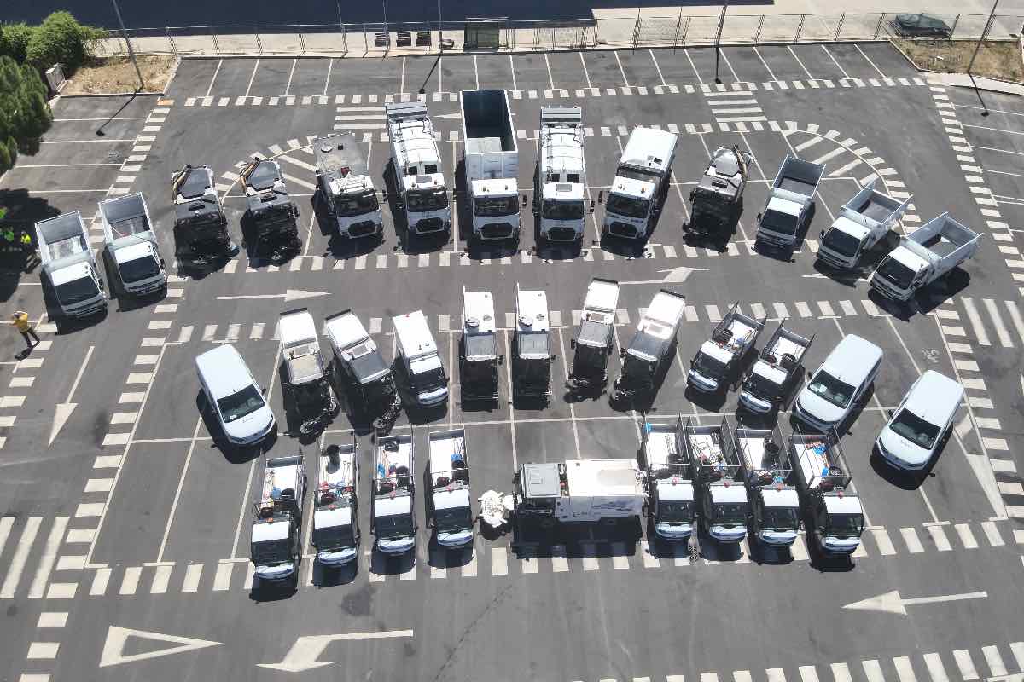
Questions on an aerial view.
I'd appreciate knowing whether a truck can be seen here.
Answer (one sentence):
Yes, there's a truck down there.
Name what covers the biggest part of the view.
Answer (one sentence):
For the most part, this view shows paved ground.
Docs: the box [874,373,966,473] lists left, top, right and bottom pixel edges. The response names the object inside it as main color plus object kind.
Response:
white van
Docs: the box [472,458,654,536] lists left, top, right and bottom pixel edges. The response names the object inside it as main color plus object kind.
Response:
white vehicle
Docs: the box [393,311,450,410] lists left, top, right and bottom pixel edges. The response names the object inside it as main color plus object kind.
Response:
white truck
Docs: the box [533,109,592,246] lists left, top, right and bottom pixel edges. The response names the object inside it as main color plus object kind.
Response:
white truck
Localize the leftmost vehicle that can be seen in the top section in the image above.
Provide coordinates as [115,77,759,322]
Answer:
[34,211,110,325]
